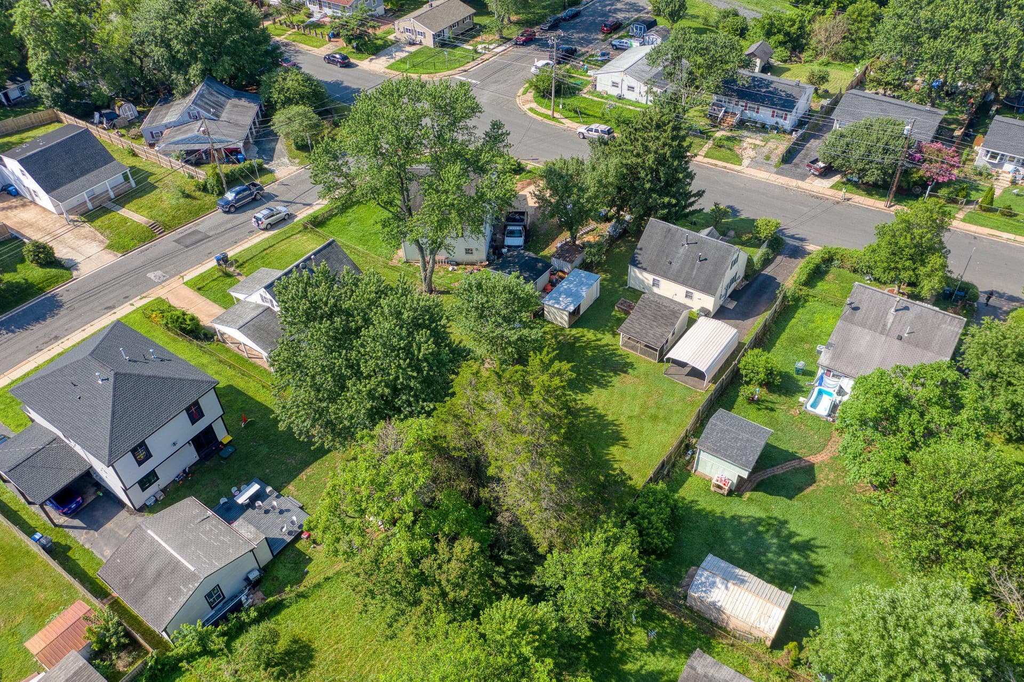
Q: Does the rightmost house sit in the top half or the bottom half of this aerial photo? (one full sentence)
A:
Seen from above, the rightmost house lies in the top half of the view.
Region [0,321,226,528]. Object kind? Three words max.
house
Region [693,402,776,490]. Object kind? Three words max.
shed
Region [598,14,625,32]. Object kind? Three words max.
vehicle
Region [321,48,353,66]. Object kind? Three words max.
car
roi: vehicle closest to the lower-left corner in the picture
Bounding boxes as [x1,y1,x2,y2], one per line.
[49,488,86,523]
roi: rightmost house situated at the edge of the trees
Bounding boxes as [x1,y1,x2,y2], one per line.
[979,115,1024,187]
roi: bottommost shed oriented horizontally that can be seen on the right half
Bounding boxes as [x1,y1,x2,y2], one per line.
[674,639,774,682]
